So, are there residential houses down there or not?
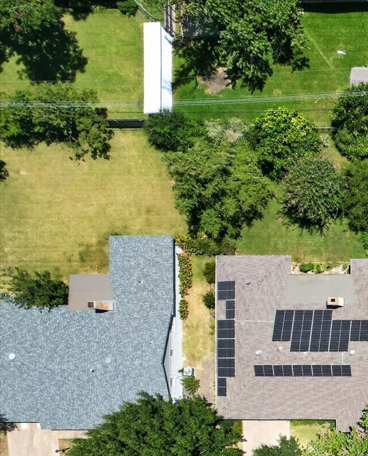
Yes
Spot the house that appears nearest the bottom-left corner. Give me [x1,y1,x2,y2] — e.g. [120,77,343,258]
[0,236,175,431]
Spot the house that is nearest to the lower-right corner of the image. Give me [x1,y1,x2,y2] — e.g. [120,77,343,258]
[216,255,368,431]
